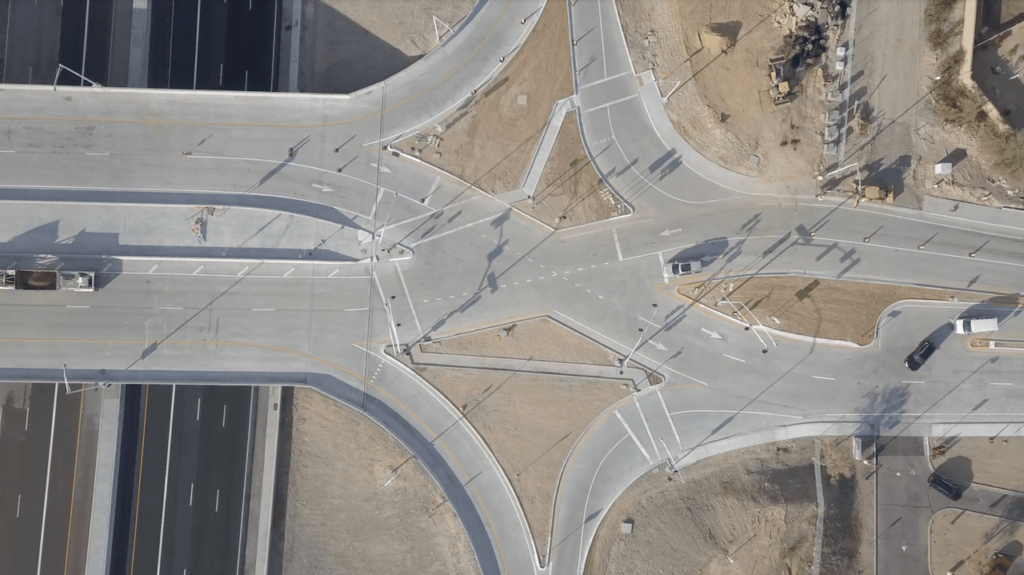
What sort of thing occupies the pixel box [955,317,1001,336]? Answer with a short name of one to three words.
vehicle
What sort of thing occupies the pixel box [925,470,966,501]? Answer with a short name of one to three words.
car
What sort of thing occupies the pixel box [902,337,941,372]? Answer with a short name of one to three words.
car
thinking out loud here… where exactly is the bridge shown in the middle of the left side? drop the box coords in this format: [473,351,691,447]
[0,79,387,412]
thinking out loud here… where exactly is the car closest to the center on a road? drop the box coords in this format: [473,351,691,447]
[662,260,701,278]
